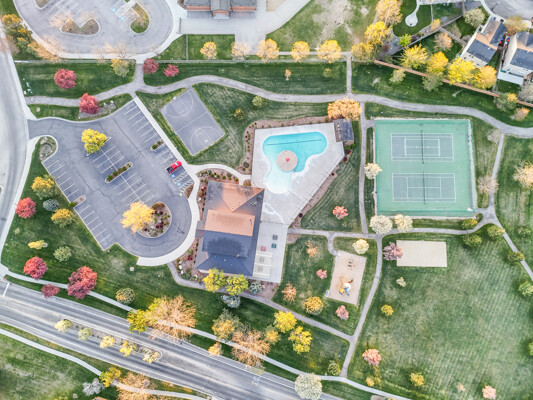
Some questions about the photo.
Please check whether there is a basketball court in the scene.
Yes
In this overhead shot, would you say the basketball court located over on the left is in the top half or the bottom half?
top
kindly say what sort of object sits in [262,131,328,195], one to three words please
swimming pool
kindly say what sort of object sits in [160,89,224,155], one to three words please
basketball court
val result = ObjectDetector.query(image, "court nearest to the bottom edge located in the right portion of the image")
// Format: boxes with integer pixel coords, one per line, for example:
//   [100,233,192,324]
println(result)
[396,240,447,268]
